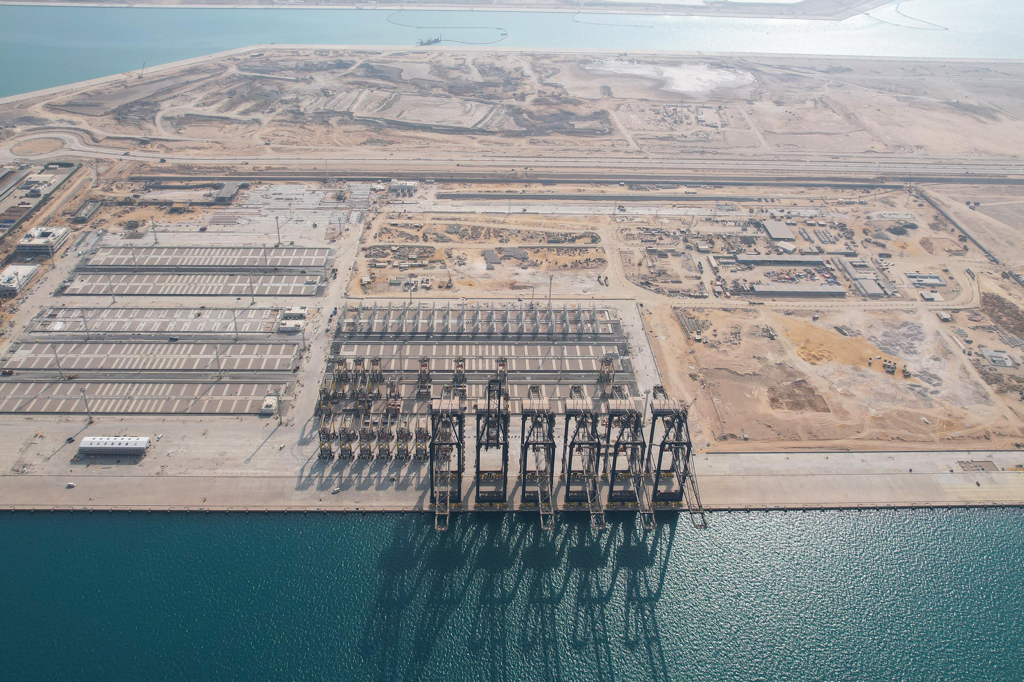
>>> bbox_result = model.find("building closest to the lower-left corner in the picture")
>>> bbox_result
[80,438,152,456]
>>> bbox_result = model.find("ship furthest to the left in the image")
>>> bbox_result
[415,23,444,46]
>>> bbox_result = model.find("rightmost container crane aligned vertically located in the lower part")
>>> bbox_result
[644,383,707,529]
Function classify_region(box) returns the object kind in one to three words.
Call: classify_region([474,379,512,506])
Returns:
container crane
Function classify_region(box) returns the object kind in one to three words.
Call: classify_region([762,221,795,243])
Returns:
building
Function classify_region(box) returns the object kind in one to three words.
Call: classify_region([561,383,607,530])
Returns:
container crane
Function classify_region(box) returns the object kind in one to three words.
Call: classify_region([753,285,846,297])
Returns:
shed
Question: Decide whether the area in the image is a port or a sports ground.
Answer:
port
